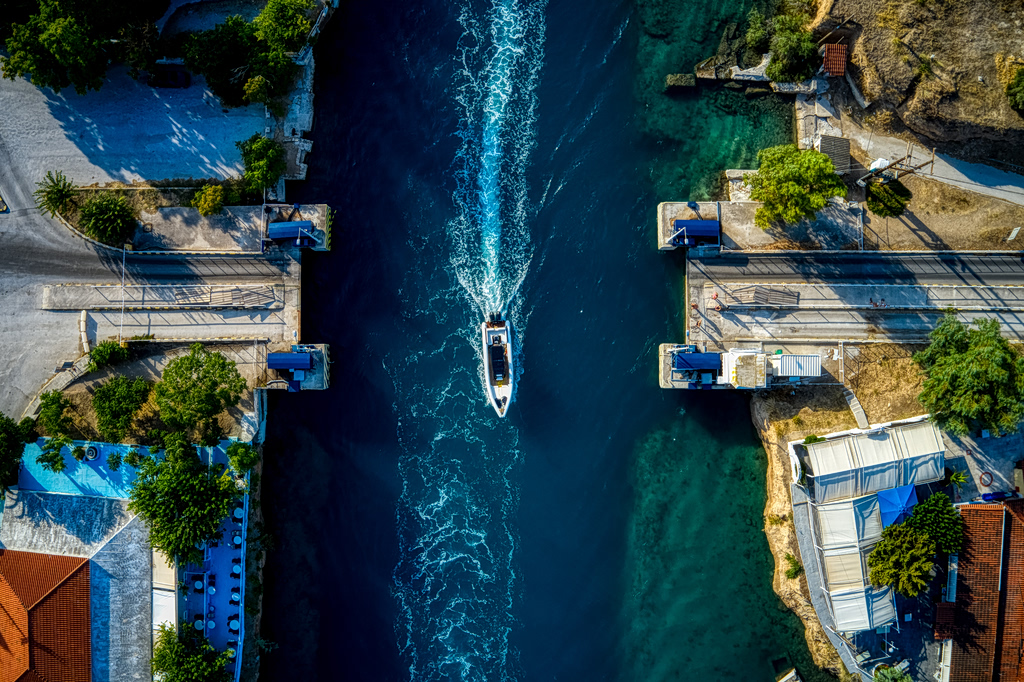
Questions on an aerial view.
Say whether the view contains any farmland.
No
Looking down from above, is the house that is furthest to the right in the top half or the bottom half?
bottom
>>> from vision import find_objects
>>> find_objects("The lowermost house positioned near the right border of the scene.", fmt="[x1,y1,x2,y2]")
[936,500,1024,682]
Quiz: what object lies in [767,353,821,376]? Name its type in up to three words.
building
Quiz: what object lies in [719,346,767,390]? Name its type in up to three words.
building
